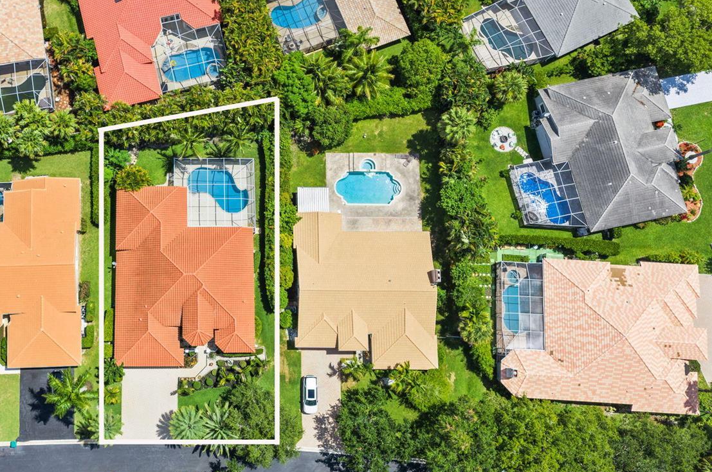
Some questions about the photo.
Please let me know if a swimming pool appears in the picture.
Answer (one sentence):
Yes, looking at the shot, I can spot a swimming pool.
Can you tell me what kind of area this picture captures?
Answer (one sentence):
This looks like a residential area.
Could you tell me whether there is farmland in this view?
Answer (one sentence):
No, there is no farmland in the image.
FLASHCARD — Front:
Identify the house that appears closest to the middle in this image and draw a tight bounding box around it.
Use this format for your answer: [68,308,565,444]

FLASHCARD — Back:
[293,212,442,370]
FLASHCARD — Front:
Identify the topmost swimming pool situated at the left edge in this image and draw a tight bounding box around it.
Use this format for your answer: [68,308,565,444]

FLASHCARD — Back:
[0,70,50,114]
